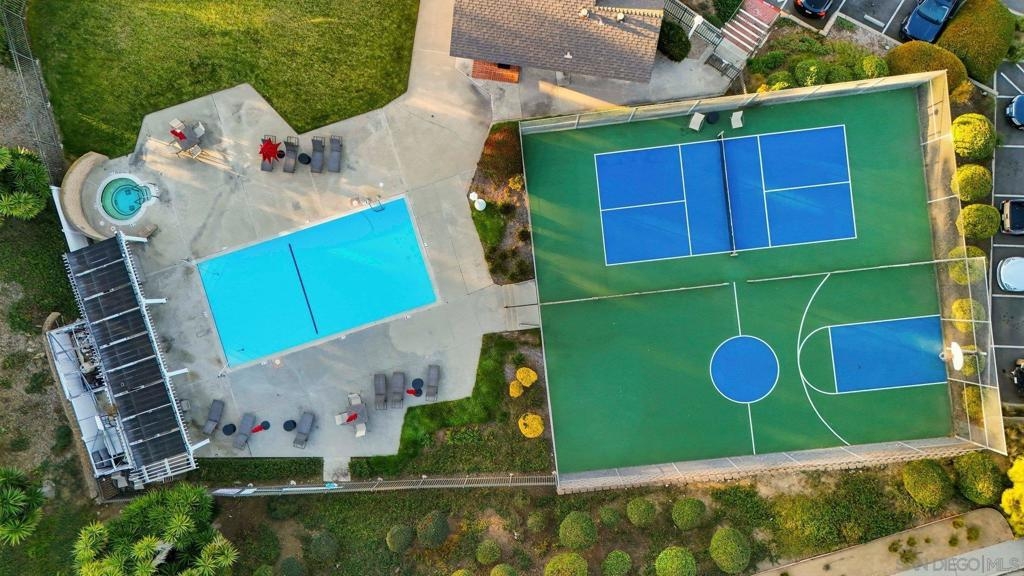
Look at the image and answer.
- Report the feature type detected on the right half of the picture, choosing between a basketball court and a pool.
basketball court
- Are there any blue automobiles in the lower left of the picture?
No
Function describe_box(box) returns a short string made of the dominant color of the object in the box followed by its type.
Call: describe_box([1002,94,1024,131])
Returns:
blue car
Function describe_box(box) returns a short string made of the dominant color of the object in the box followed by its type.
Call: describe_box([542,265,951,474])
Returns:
green basketball court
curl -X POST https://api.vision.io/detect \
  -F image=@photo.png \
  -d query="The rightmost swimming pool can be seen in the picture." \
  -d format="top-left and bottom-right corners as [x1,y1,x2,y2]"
[183,182,442,377]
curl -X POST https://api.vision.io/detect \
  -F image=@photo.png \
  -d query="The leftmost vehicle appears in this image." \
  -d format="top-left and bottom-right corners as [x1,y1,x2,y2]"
[792,0,833,22]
